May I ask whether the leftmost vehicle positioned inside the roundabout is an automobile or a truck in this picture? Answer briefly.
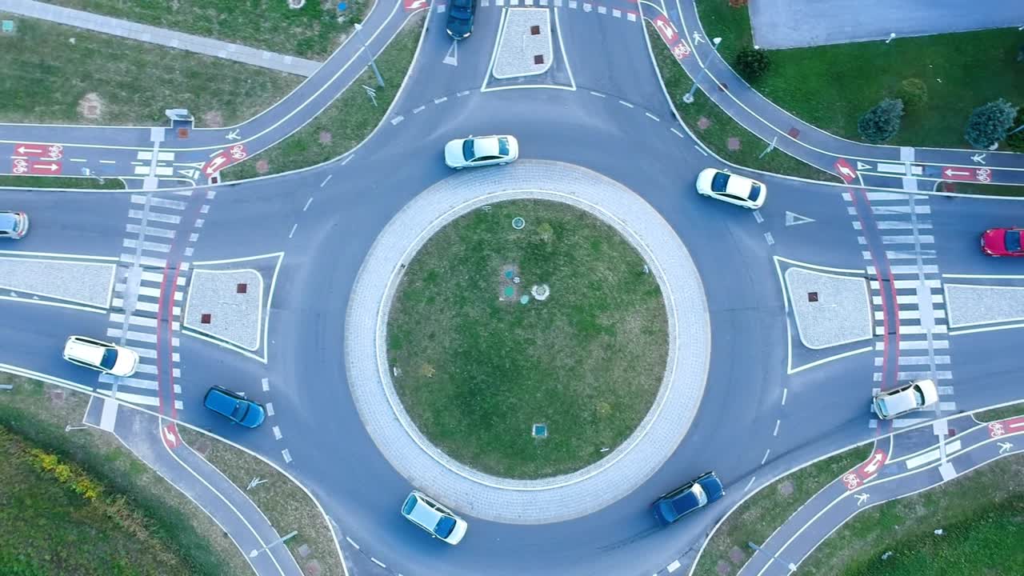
automobile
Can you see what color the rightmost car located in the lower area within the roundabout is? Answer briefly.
blue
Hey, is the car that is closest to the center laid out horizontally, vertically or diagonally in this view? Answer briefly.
horizontally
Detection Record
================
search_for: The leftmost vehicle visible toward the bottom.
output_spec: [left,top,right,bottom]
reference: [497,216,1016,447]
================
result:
[60,335,143,376]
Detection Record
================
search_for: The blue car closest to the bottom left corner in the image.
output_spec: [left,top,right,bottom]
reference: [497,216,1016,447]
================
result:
[203,384,265,427]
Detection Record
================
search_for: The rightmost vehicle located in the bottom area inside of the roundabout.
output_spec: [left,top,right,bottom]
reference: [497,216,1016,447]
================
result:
[649,472,723,525]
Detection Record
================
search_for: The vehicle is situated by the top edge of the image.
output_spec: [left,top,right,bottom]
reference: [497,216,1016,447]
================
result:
[442,0,476,41]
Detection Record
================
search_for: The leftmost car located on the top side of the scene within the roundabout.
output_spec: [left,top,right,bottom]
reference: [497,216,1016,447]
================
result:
[444,132,520,170]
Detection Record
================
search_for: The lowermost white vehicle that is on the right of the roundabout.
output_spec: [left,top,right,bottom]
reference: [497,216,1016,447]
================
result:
[870,378,937,419]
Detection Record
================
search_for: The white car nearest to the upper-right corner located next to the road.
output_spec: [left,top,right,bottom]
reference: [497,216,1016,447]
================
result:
[693,167,767,213]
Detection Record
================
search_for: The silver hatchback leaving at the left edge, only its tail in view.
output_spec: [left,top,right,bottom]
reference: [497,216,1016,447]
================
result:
[0,210,29,242]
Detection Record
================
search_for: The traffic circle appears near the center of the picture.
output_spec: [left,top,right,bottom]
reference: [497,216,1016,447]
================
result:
[268,82,787,576]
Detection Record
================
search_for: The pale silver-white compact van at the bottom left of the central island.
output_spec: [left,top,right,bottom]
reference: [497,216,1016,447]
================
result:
[403,492,466,542]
